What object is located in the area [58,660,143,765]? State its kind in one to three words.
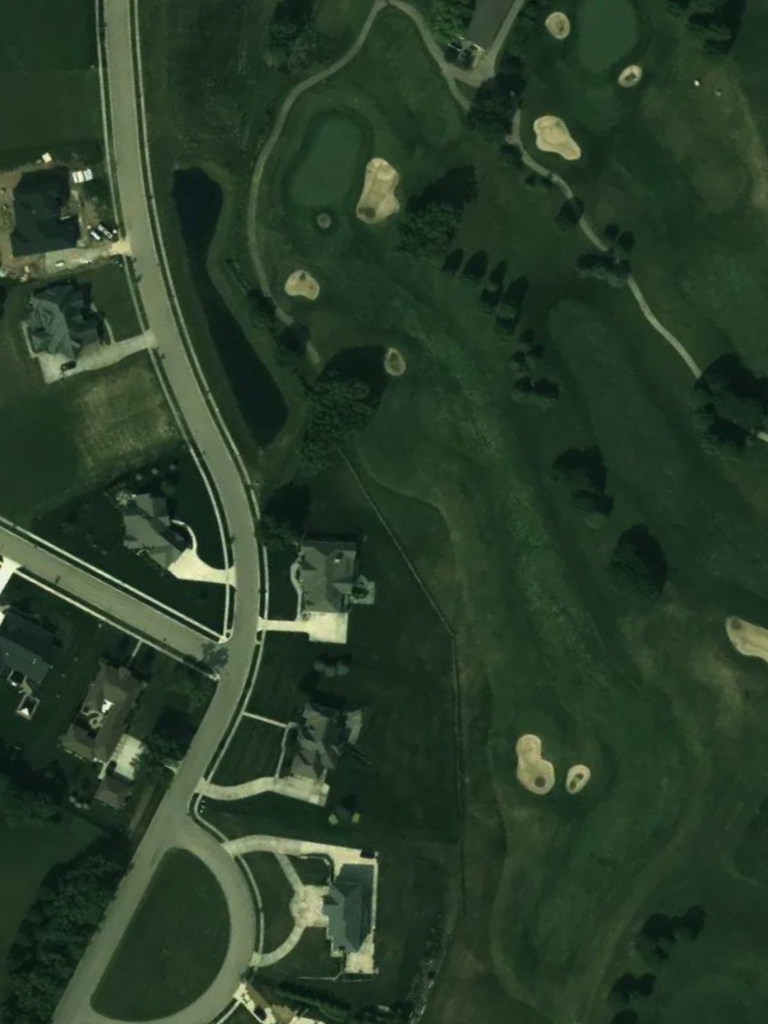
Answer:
house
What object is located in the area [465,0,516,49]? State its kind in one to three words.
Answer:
building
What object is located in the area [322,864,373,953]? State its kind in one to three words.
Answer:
house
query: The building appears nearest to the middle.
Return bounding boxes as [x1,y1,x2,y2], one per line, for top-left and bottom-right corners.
[299,542,359,619]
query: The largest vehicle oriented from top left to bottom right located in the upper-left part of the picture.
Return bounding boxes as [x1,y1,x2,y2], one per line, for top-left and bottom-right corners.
[97,222,114,240]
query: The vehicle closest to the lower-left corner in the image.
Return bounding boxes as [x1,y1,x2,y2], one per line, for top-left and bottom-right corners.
[252,1006,268,1020]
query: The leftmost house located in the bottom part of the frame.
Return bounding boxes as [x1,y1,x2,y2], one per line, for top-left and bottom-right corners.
[0,608,54,683]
